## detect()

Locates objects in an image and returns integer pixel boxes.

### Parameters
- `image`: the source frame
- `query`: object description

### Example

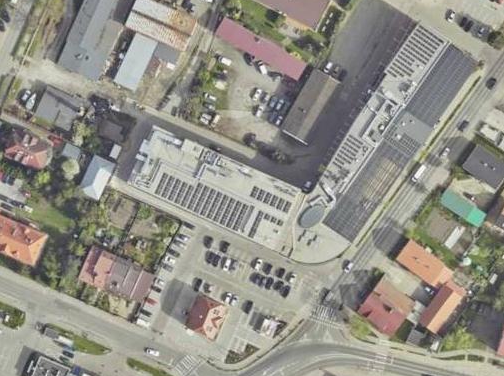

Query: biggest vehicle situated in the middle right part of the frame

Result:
[412,162,427,183]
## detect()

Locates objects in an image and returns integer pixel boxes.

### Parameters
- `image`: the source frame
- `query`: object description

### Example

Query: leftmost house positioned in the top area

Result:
[5,125,53,170]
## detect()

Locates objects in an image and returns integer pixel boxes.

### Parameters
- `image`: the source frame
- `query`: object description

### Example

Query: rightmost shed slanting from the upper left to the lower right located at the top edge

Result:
[215,17,307,81]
